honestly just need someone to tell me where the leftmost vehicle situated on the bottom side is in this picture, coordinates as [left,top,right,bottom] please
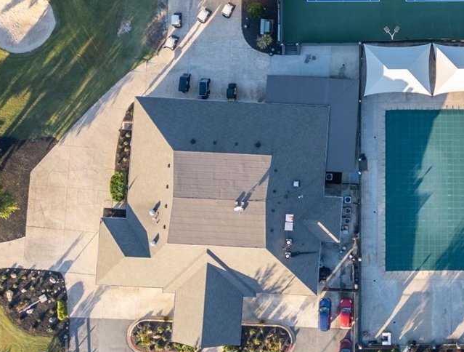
[317,299,331,334]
